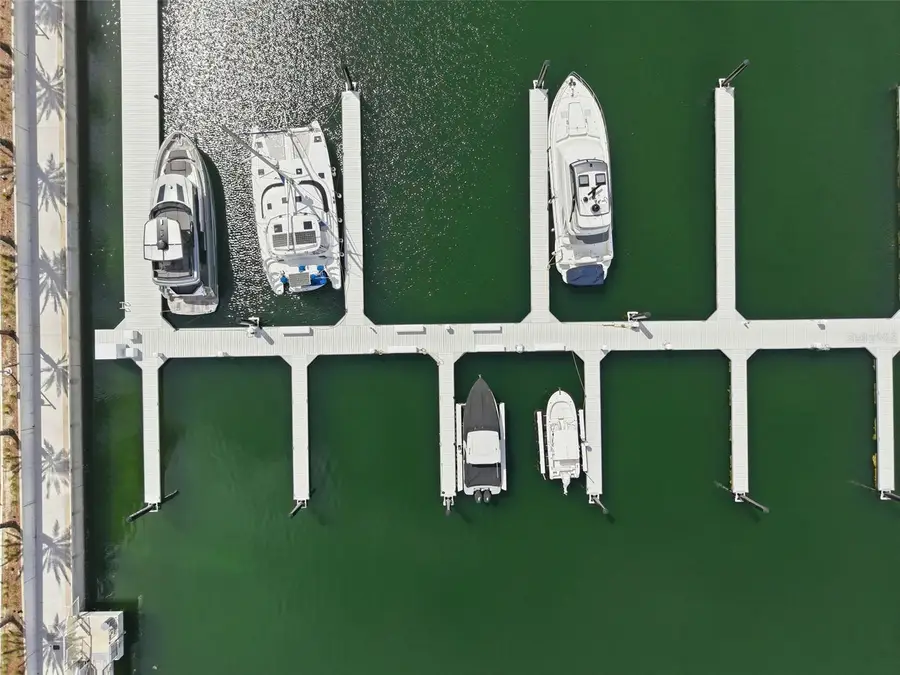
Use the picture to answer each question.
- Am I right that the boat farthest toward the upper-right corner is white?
Yes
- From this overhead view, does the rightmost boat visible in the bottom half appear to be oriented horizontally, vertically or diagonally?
vertically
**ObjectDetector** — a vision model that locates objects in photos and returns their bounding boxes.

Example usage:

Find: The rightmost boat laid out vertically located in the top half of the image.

[548,68,613,287]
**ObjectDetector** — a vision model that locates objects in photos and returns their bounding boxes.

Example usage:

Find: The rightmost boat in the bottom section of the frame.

[546,388,579,495]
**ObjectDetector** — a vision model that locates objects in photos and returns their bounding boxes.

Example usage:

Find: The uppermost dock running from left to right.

[94,317,900,357]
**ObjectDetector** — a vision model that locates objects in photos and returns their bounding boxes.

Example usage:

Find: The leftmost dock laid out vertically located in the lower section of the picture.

[131,356,170,511]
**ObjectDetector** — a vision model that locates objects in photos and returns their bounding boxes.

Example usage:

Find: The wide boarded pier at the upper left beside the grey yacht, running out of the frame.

[112,0,178,328]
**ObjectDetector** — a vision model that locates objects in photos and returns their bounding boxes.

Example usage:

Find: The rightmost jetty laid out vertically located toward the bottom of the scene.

[864,345,900,499]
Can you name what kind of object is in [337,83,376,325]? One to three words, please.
pier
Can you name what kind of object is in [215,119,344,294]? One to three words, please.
boat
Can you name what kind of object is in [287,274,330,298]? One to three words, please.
boat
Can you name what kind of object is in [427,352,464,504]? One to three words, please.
pier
